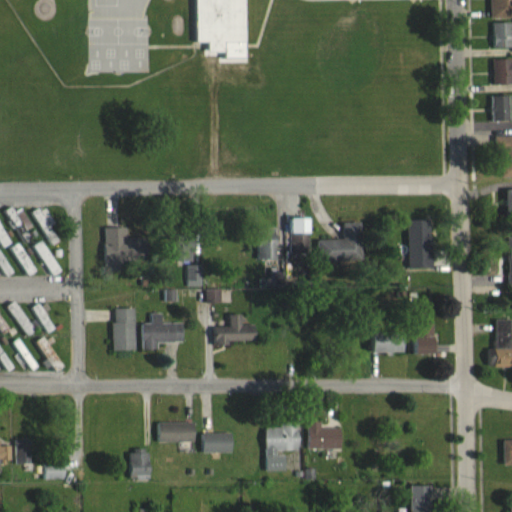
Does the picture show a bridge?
No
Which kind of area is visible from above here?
residential area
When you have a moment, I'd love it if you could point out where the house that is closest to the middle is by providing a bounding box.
[258,239,280,260]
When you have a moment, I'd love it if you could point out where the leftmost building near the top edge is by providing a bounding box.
[198,0,248,64]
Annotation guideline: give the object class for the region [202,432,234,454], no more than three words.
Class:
house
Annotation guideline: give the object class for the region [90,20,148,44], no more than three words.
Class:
basketball court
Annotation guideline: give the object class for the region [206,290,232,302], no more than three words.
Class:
shed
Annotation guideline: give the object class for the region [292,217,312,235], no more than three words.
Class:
building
